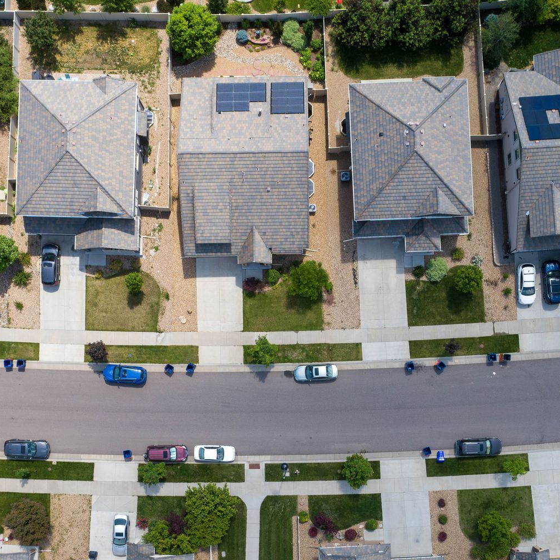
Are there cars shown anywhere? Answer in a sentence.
Yes, the frame does contain a car.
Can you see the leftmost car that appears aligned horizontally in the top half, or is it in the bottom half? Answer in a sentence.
The leftmost car that appears aligned horizontally sits in the bottom half of the picture.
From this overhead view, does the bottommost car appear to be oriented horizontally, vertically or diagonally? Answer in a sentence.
The bottommost car is oriented vertically.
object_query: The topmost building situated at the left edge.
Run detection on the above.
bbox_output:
[14,72,154,254]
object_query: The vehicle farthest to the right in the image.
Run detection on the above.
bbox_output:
[540,260,560,305]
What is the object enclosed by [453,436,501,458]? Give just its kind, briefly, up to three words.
car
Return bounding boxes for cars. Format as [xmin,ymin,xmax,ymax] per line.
[540,260,560,305]
[144,444,188,465]
[104,363,148,384]
[514,263,537,304]
[294,363,338,384]
[194,444,236,465]
[453,436,501,458]
[110,512,130,557]
[3,439,52,461]
[39,242,62,286]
